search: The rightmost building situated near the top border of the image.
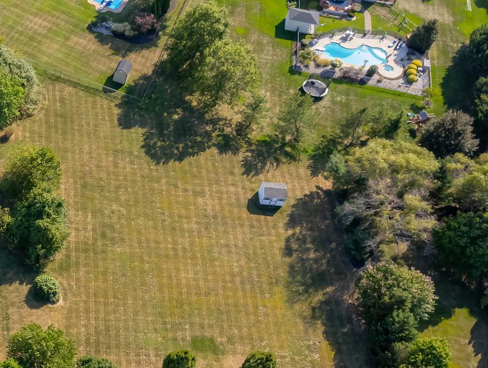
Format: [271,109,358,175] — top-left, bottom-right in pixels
[286,7,327,39]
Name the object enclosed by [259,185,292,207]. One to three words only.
shed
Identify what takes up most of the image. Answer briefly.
grass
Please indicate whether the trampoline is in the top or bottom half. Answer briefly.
top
